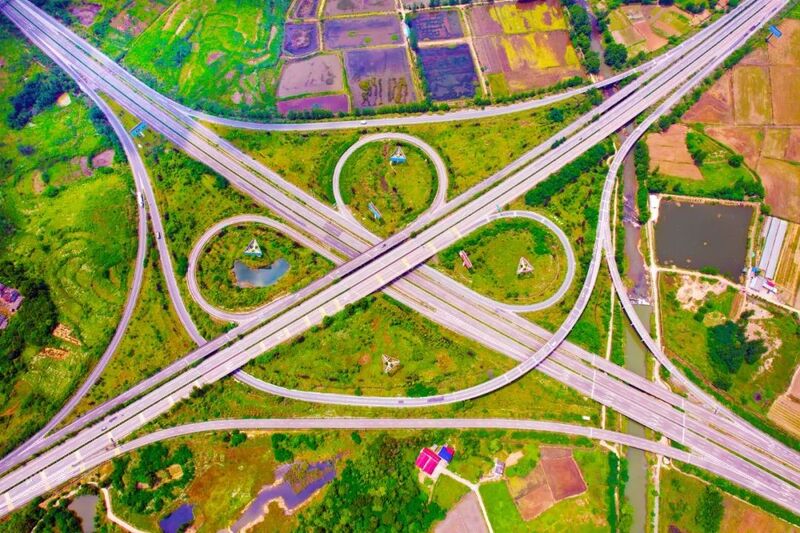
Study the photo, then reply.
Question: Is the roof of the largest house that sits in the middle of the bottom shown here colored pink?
Yes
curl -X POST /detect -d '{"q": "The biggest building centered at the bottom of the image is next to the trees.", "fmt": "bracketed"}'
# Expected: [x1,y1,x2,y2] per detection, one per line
[414,448,441,474]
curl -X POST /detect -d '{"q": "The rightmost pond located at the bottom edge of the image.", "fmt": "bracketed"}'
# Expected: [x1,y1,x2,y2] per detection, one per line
[230,451,349,533]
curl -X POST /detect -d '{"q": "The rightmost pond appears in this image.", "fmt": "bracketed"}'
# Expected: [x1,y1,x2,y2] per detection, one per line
[656,200,755,284]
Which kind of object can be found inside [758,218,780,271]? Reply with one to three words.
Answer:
shed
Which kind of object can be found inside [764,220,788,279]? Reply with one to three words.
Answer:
shed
